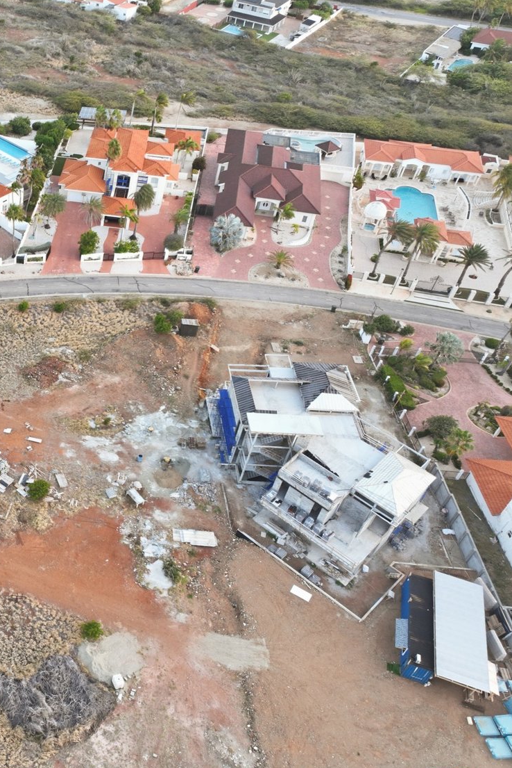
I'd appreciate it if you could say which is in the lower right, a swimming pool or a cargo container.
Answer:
cargo container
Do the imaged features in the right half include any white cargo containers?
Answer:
No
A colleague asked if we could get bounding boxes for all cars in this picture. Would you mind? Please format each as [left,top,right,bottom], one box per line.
[332,0,343,10]
[290,29,304,39]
